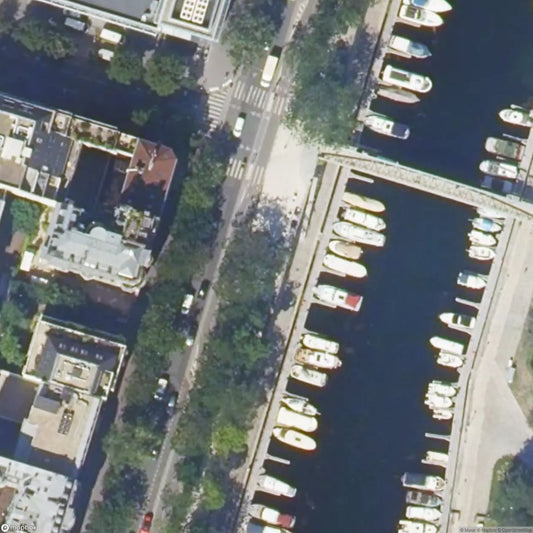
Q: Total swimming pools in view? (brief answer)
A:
0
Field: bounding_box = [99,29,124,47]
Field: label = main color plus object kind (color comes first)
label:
white vehicle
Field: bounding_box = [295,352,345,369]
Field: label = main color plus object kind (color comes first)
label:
white boat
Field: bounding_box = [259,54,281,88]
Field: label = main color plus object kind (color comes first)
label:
white vehicle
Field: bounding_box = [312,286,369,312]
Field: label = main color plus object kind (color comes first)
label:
white boat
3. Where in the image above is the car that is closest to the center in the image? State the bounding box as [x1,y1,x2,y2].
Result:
[198,278,212,298]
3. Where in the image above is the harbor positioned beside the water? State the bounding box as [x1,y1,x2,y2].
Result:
[213,0,533,533]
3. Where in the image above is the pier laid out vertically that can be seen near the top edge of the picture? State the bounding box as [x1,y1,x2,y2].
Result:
[361,0,401,134]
